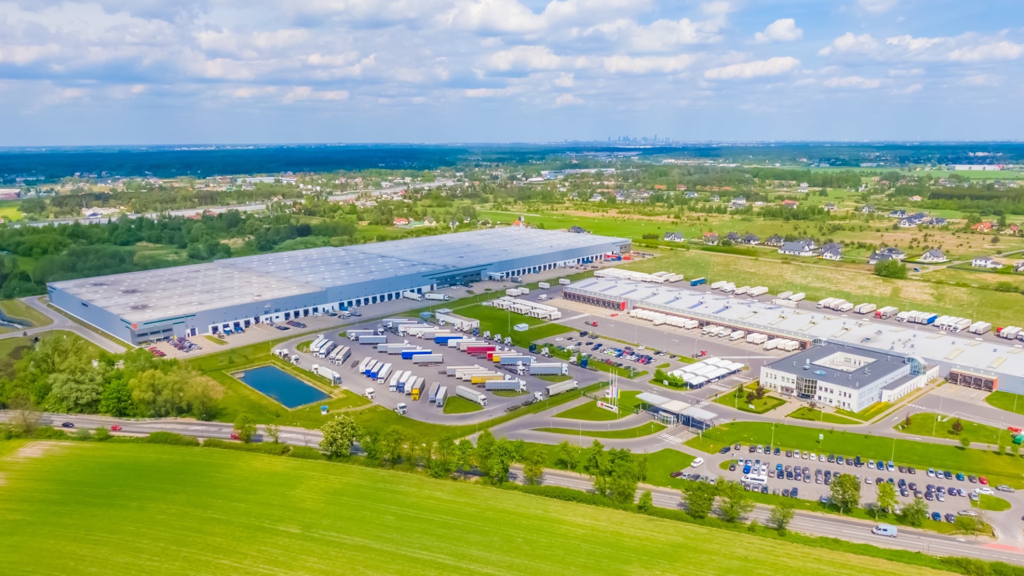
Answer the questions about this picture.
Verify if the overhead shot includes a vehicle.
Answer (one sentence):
Yes, looking at the shot, I can spot a vehicle.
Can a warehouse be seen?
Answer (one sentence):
Yes, looking at the shot, I can spot a warehouse.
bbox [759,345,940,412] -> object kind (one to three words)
building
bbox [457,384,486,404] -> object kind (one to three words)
vehicle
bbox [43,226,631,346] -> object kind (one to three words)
warehouse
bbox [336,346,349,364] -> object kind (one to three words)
vehicle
